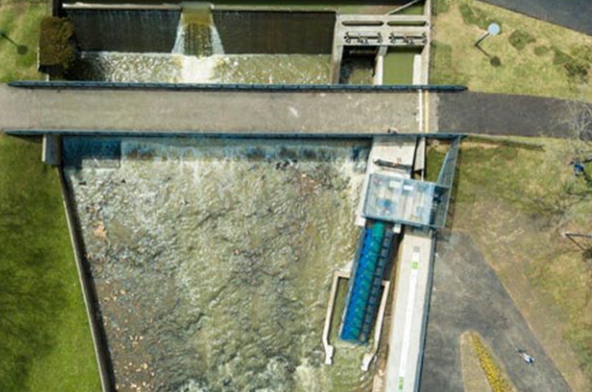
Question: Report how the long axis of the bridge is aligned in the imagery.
from side to side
